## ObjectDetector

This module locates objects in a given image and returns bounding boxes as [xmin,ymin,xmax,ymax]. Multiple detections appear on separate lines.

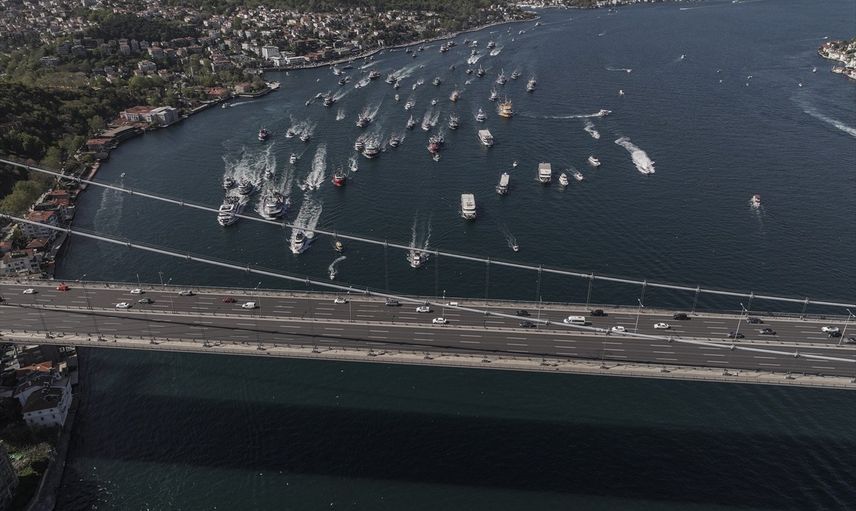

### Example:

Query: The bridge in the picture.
[0,159,856,390]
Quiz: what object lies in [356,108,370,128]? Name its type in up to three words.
boat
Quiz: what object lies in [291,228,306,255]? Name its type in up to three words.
boat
